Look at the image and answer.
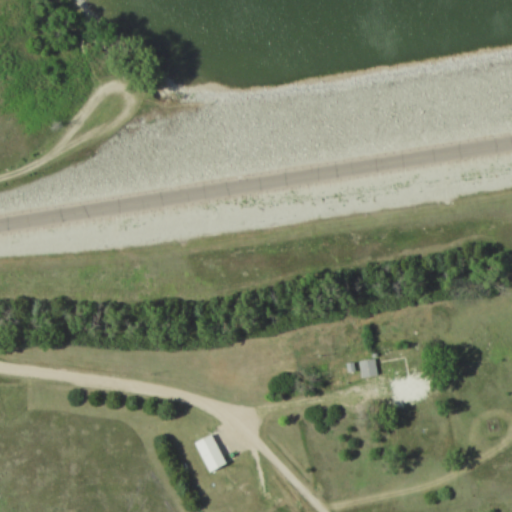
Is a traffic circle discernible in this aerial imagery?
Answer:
No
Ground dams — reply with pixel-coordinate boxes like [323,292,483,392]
[0,44,512,258]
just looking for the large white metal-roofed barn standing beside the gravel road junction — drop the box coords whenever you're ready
[194,434,228,473]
